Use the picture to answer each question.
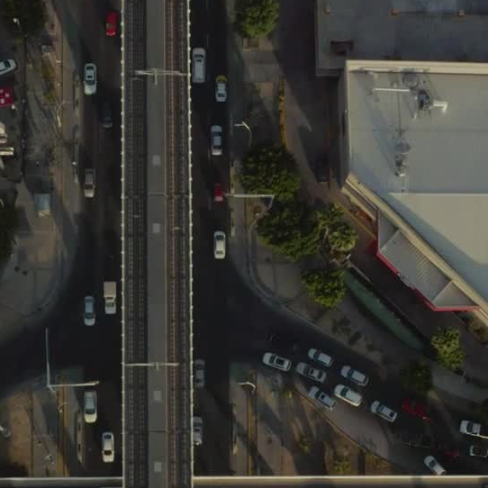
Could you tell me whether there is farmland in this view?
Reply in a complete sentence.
No, the picture contains no farmland.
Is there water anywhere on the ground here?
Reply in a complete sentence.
No, there's no water in this view.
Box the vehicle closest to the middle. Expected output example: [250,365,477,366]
[214,231,227,260]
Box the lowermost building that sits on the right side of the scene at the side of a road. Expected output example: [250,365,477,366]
[336,62,488,332]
